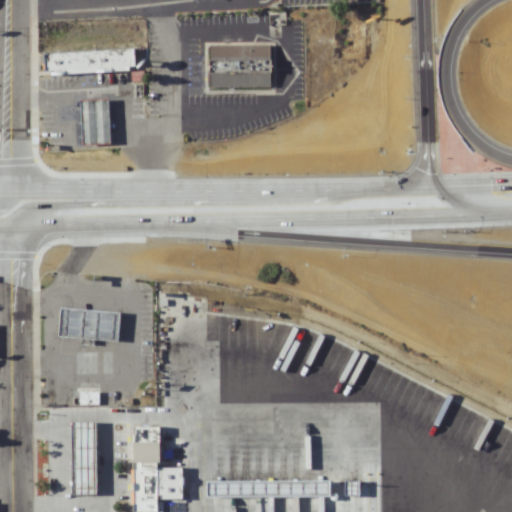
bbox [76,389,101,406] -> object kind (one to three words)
building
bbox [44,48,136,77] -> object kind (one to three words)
building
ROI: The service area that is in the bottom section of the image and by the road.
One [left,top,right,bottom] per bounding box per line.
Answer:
[38,292,512,512]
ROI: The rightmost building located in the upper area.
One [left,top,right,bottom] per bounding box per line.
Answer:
[210,44,272,89]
